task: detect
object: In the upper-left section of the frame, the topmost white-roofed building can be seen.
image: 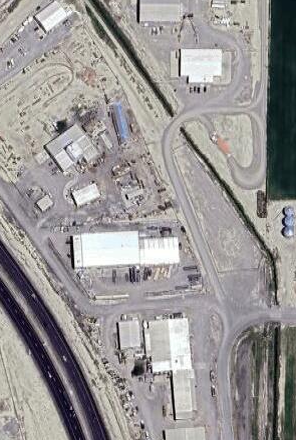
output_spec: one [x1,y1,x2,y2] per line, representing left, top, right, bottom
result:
[36,2,72,31]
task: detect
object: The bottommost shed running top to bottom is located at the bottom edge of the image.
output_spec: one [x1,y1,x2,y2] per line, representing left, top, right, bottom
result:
[172,370,197,420]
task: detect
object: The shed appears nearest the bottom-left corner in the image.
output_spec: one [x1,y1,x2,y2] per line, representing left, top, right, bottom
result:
[118,321,141,349]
